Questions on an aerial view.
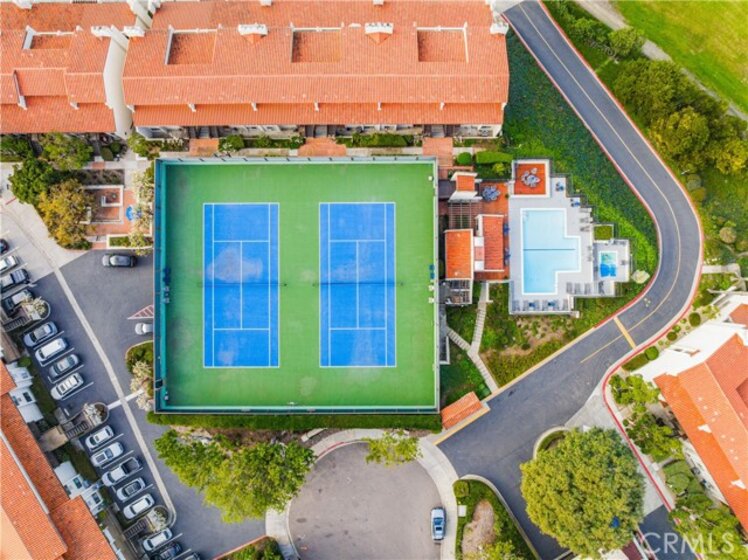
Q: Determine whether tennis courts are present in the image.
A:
Yes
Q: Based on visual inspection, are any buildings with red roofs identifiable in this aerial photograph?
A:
Yes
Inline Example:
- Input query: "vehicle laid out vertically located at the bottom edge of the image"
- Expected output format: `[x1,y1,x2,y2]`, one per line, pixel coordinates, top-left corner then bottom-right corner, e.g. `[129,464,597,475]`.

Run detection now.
[431,505,446,540]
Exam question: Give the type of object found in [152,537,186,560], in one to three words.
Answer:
car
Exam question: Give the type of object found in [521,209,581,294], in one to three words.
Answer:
swimming pool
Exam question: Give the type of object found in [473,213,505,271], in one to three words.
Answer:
building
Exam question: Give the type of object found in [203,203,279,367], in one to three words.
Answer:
tennis court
